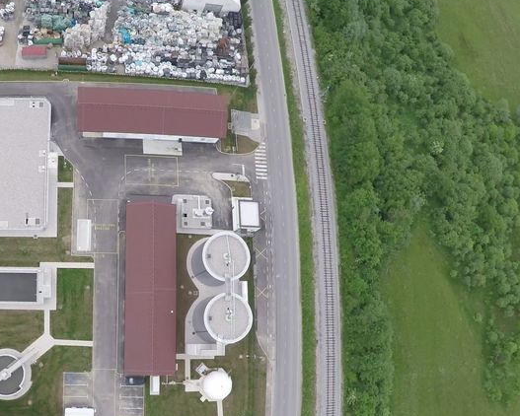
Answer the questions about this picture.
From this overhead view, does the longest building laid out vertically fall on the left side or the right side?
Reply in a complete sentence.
It is on the left.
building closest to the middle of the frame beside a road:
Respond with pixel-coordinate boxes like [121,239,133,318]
[232,198,260,232]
